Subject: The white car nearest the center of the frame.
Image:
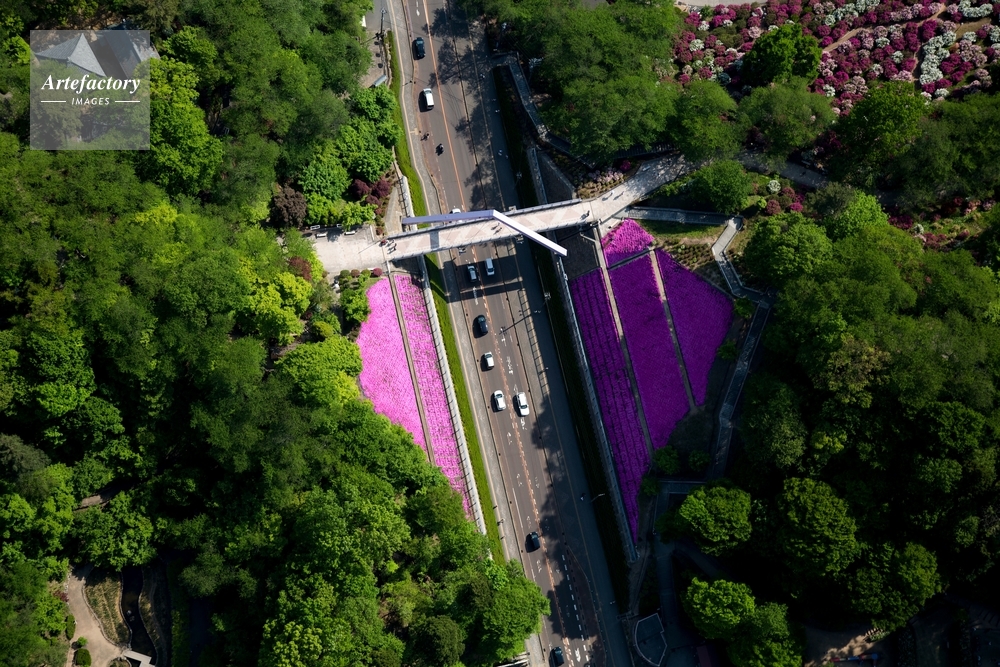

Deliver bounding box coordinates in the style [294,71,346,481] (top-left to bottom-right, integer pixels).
[483,351,496,372]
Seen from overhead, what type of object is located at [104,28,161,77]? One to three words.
house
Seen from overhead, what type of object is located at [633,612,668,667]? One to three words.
shed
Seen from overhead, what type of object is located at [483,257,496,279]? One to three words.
vehicle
